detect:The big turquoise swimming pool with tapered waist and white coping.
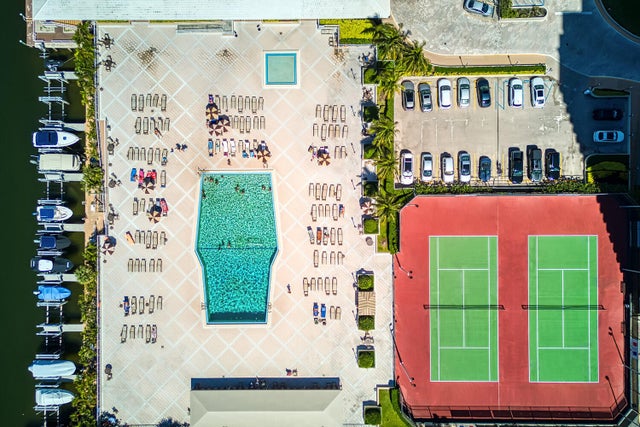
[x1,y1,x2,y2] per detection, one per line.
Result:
[188,166,284,329]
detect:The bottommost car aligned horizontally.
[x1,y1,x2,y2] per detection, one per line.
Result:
[592,129,622,143]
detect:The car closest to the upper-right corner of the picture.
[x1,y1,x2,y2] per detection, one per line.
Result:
[591,106,622,121]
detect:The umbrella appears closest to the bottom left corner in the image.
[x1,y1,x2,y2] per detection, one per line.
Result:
[101,243,116,257]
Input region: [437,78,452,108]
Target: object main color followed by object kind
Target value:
white car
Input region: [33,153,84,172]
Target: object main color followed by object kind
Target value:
white boat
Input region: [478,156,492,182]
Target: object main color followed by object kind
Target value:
blue vehicle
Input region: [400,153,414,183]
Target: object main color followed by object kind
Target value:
white car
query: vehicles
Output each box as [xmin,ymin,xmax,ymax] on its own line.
[509,153,525,182]
[592,129,622,143]
[458,153,472,183]
[441,154,456,184]
[591,106,622,121]
[478,156,492,182]
[464,0,494,18]
[497,162,502,174]
[418,83,432,113]
[400,153,414,183]
[528,78,545,108]
[401,81,415,111]
[420,153,434,183]
[476,78,491,108]
[508,78,523,108]
[437,78,452,108]
[456,78,471,108]
[528,149,545,183]
[547,150,563,179]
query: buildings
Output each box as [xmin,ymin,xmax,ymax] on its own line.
[31,0,390,19]
[190,388,342,427]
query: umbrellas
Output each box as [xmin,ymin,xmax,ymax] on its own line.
[101,243,116,257]
[207,121,220,135]
[218,118,231,133]
[148,210,162,225]
[140,180,154,194]
[205,106,219,119]
[317,154,332,168]
[256,149,271,163]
